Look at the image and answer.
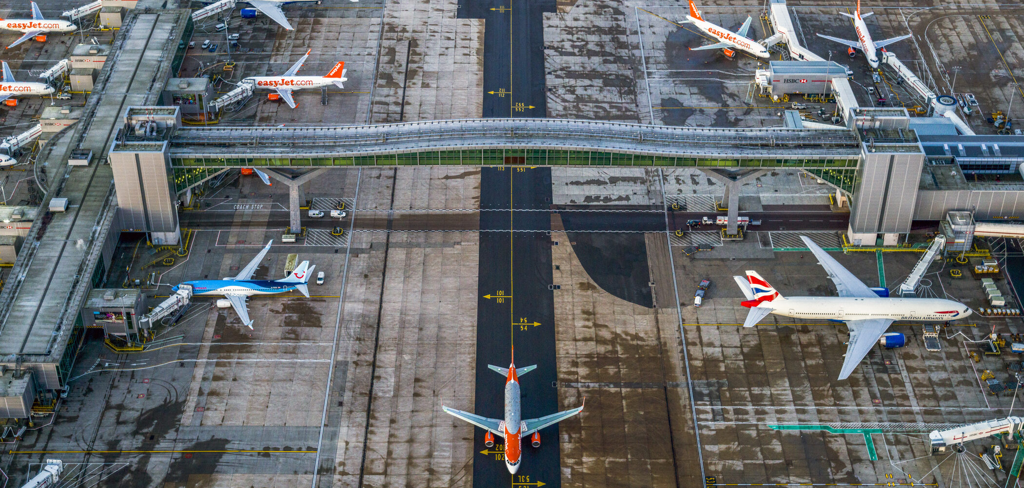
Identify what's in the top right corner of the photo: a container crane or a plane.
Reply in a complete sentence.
There is a plane in the top right corner of the photo.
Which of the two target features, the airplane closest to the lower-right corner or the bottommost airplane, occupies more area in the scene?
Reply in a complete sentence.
Of the two, the airplane closest to the lower-right corner is larger and the bottommost airplane is the smaller one.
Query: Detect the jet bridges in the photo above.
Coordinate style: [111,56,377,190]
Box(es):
[0,122,48,158]
[902,239,947,297]
[20,456,67,488]
[201,0,241,23]
[62,0,107,29]
[876,54,939,117]
[929,414,1021,457]
[210,81,255,122]
[142,286,195,343]
[36,57,72,88]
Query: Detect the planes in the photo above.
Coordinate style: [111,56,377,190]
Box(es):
[172,239,311,329]
[441,349,582,477]
[0,60,55,107]
[0,150,17,173]
[236,47,346,107]
[817,0,912,68]
[734,236,972,379]
[240,0,335,31]
[674,3,770,58]
[0,1,77,49]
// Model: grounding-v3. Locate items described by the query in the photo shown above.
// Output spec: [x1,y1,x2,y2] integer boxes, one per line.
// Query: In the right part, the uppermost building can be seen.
[769,60,848,98]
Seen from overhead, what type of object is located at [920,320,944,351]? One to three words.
work vehicle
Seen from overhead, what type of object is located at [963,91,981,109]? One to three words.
work vehicle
